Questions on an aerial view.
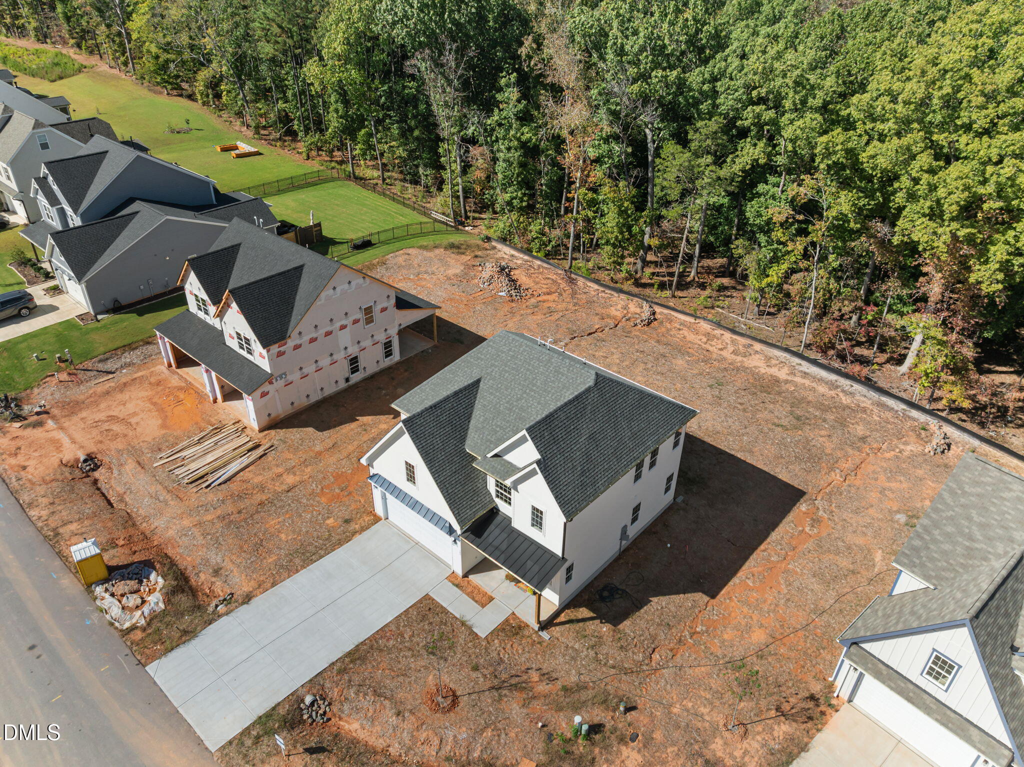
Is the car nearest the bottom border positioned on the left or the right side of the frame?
left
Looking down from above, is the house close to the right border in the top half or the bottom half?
bottom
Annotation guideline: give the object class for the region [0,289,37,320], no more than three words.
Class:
car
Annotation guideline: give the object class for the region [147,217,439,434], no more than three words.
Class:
house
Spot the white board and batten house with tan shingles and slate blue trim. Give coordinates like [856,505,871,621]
[827,451,1024,767]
